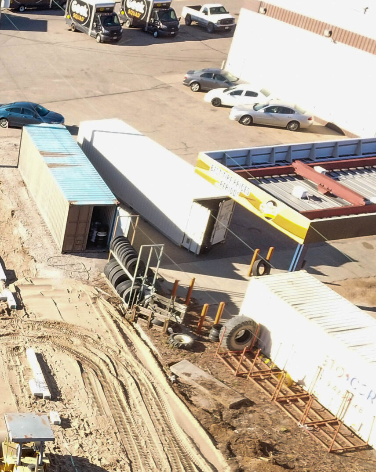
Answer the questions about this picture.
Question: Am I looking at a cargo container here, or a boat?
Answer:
cargo container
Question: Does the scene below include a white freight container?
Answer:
Yes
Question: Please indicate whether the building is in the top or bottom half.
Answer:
top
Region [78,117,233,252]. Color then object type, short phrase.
white shipping container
